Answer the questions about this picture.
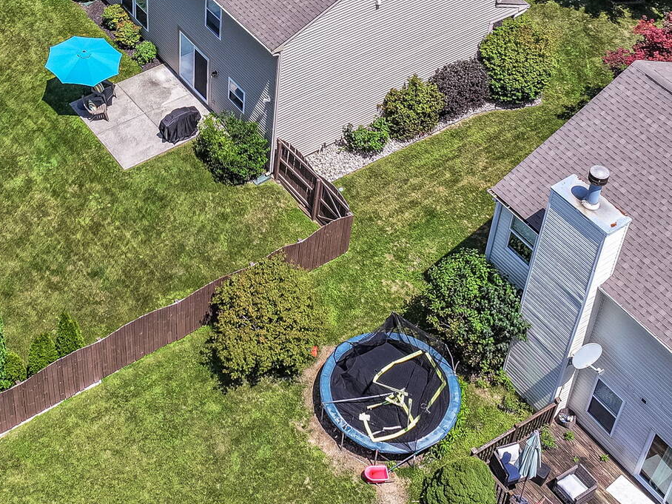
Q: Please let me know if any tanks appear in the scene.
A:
No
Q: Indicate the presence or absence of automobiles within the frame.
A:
No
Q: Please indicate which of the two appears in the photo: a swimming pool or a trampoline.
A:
trampoline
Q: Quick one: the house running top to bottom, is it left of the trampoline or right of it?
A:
to the right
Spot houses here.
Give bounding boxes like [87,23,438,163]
[478,60,672,504]
[105,0,533,175]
